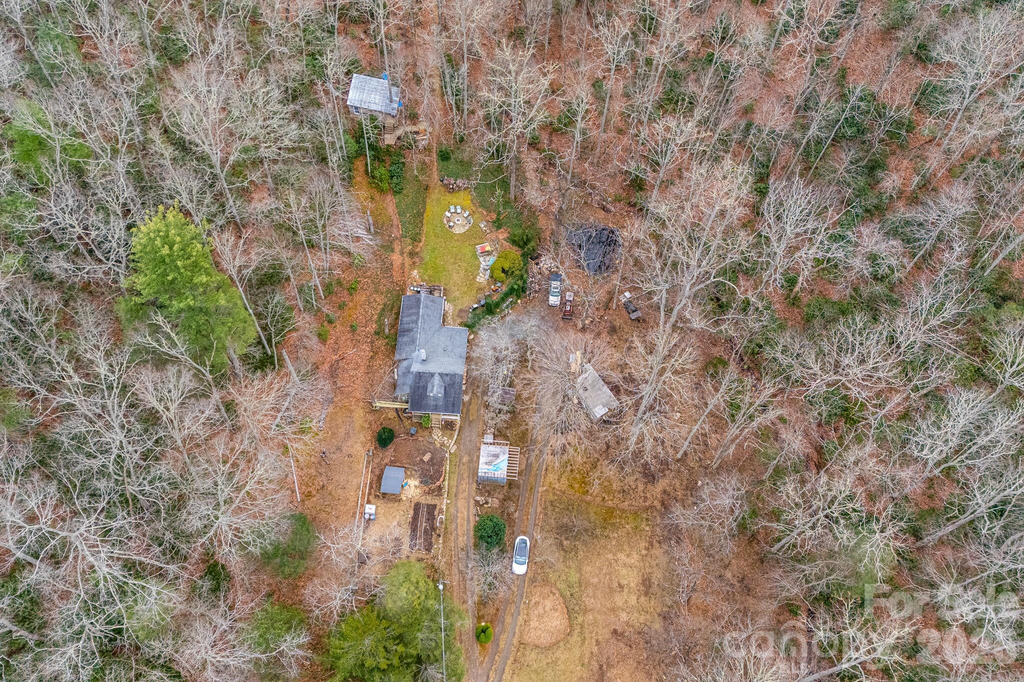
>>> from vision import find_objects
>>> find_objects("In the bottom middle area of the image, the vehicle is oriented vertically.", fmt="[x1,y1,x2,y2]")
[512,535,530,574]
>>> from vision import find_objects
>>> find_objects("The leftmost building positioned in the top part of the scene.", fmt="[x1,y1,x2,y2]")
[347,73,400,124]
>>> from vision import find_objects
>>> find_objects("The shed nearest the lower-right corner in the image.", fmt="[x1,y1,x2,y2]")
[576,368,619,424]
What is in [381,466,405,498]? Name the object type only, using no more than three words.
shed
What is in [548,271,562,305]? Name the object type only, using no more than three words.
vehicle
